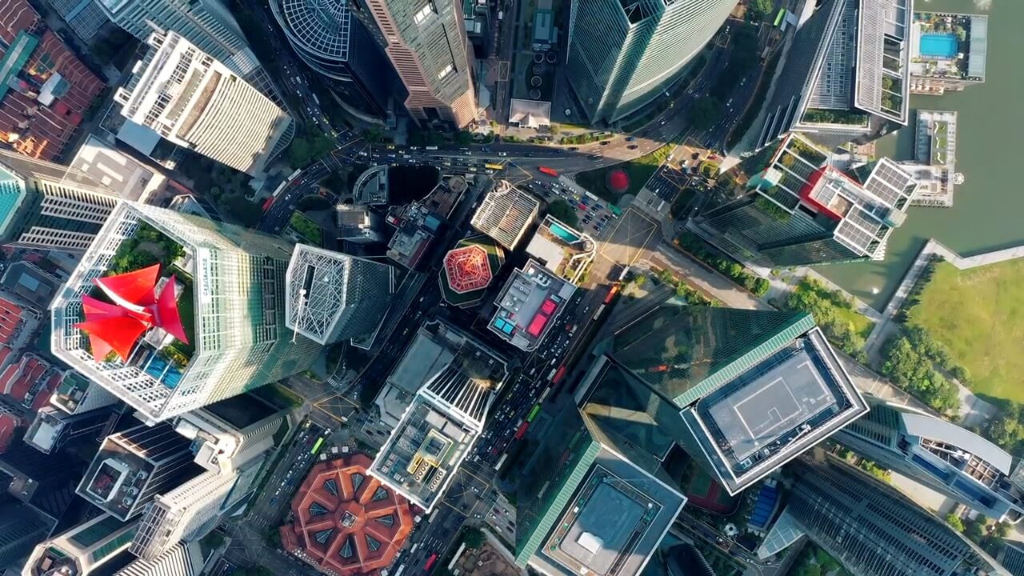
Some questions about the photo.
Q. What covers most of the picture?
buildings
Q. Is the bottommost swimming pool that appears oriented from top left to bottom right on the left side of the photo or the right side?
right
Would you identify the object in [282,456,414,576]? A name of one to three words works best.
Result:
building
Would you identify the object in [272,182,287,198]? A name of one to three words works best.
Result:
vehicle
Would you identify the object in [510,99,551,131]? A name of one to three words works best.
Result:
building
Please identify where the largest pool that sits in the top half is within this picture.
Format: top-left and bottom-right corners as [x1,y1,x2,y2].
[920,34,959,56]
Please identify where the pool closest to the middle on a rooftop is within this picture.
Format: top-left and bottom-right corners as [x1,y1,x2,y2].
[550,224,578,244]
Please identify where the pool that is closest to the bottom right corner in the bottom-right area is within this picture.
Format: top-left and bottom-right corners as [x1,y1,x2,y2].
[953,477,997,509]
